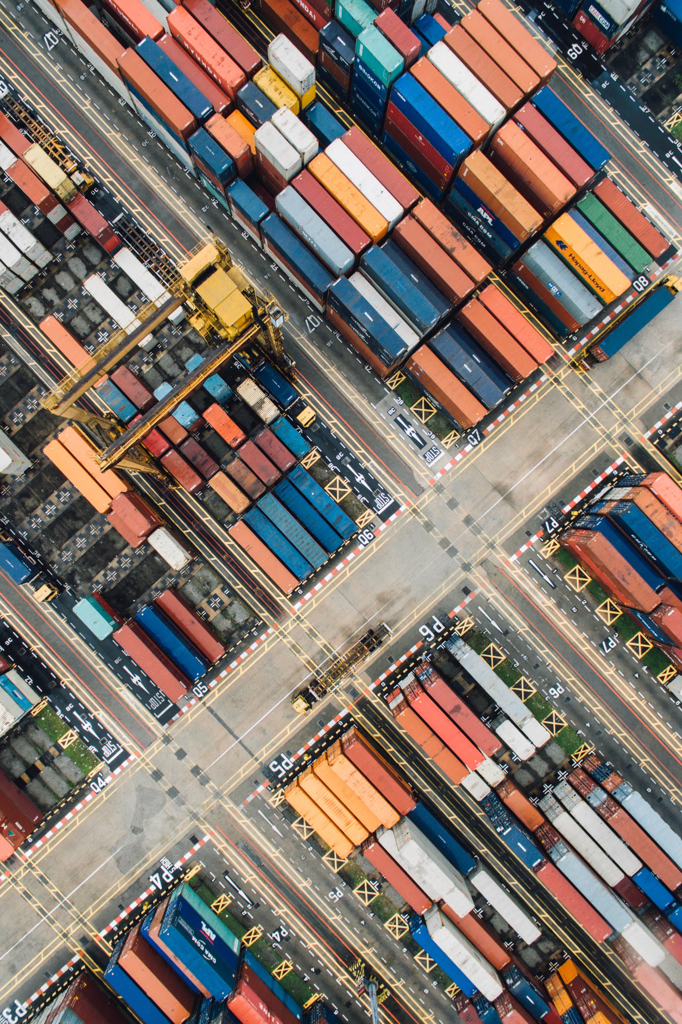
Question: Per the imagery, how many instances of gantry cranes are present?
1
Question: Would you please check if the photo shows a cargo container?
Yes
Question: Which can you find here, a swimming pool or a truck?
truck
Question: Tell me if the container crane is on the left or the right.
left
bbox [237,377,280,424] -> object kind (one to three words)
shipping container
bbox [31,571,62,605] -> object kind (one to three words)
truck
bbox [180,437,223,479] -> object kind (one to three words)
shipping container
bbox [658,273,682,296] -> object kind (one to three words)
truck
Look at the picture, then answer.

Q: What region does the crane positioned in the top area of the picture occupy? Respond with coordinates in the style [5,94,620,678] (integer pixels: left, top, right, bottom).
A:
[35,234,301,490]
